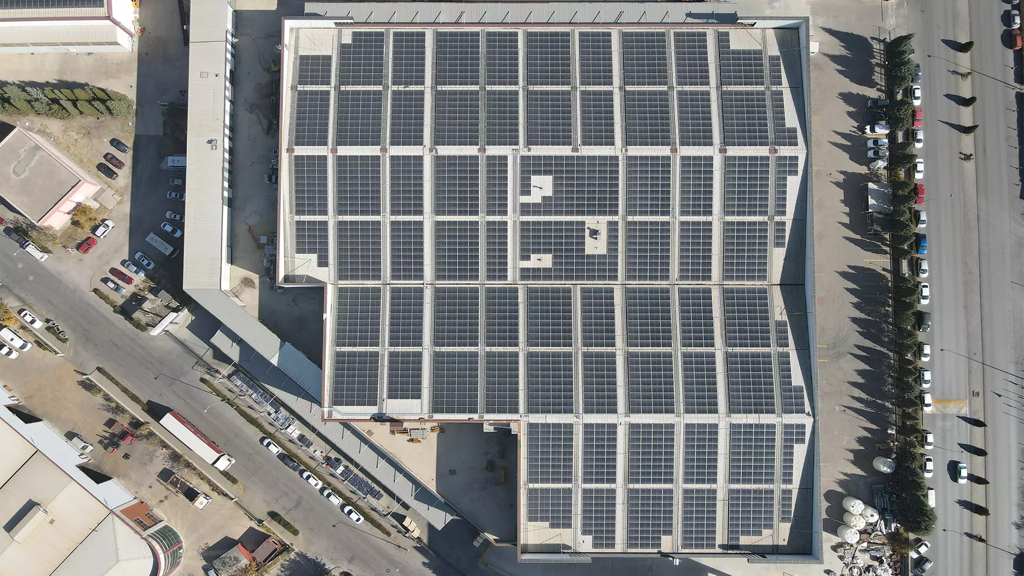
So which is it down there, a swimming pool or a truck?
truck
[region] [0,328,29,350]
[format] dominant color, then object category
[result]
white vehicle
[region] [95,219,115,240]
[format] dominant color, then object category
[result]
white car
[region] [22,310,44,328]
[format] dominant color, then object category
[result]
white car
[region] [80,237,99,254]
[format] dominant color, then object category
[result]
red car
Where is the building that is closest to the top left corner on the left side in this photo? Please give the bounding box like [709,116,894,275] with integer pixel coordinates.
[0,0,141,56]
